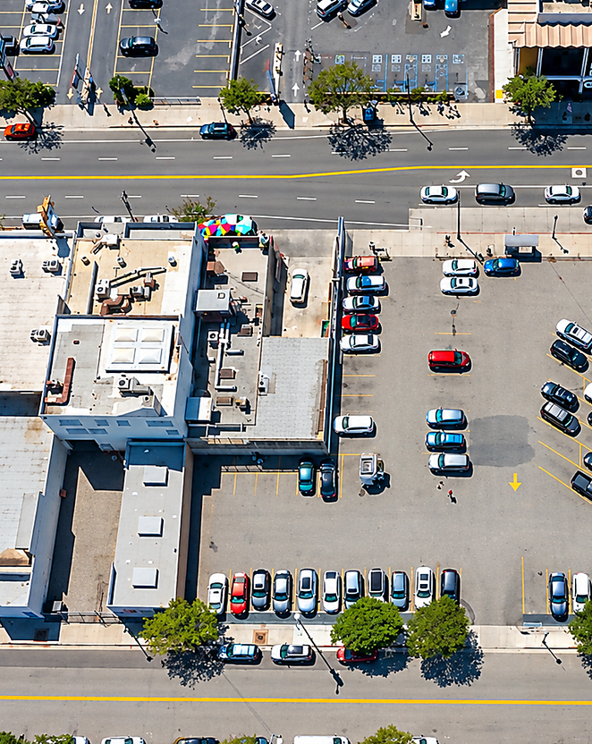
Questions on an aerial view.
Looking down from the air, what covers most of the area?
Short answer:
paved ground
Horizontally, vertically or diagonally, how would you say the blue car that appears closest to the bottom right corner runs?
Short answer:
vertically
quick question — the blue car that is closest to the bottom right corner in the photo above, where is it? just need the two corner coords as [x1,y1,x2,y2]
[549,573,569,620]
